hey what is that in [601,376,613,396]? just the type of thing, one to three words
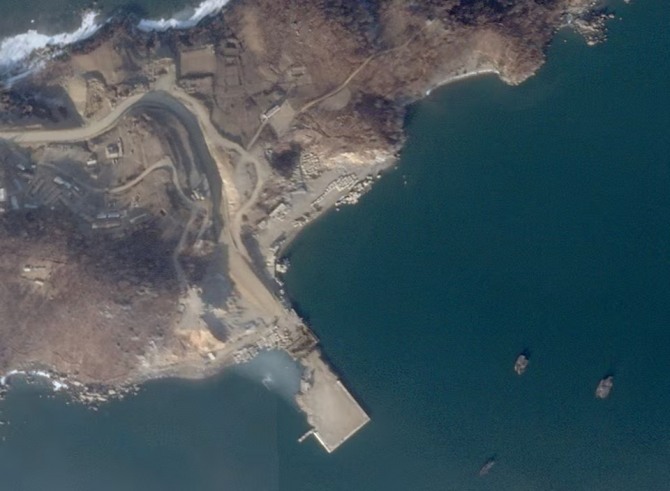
boat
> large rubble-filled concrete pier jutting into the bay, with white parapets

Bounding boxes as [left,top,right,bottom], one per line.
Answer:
[295,348,370,452]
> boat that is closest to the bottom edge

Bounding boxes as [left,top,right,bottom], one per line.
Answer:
[478,459,493,476]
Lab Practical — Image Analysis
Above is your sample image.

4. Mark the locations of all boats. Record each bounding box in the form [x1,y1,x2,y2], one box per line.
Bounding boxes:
[478,459,493,476]
[512,356,522,374]
[520,354,529,371]
[594,379,606,399]
[601,376,613,396]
